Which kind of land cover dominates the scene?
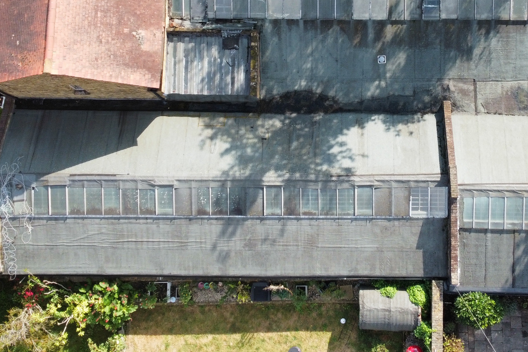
buildings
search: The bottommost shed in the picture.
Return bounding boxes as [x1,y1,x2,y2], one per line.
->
[359,288,423,331]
